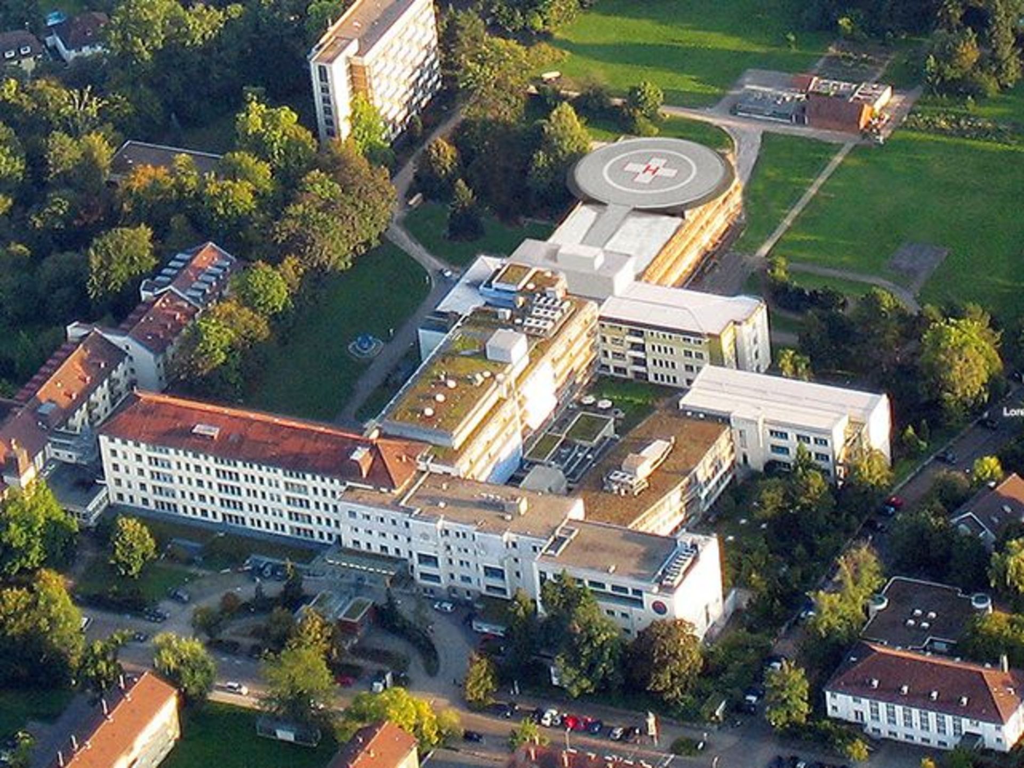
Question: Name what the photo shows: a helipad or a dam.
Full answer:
It is a helipad that can be seen here.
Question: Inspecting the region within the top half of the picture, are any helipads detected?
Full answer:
Yes, a helipad is visible within the top half of the picture.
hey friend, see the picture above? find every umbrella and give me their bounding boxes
[579,396,597,412]
[596,400,614,415]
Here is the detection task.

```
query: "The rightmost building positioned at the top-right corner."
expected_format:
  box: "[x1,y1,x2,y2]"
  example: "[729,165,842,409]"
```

[805,77,895,145]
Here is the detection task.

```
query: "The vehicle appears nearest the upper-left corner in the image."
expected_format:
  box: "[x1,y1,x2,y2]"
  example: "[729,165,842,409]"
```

[436,266,458,280]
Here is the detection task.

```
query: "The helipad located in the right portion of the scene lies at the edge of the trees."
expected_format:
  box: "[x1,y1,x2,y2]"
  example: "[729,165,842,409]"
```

[568,137,734,248]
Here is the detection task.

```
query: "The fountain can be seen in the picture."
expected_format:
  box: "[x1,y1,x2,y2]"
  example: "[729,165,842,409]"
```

[348,336,383,355]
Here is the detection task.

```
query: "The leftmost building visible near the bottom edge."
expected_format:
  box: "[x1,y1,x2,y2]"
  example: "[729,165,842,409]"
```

[46,664,183,768]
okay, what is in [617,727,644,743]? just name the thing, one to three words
car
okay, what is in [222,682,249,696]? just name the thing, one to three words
car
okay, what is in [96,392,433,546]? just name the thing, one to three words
building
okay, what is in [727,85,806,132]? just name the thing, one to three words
greenhouse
